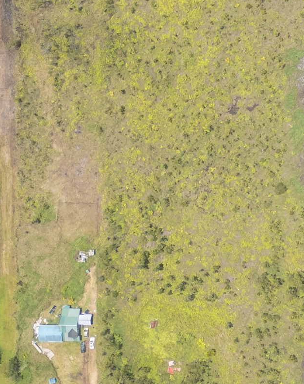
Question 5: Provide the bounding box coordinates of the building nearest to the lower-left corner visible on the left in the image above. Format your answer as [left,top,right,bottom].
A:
[39,325,63,343]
